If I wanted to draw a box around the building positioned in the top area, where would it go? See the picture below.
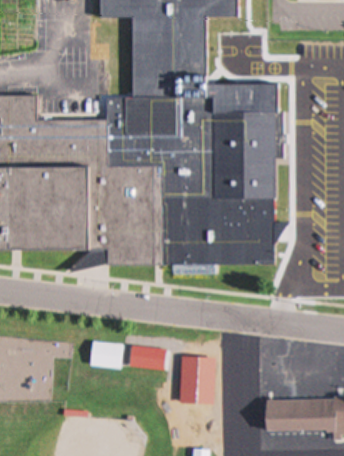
[0,0,288,276]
